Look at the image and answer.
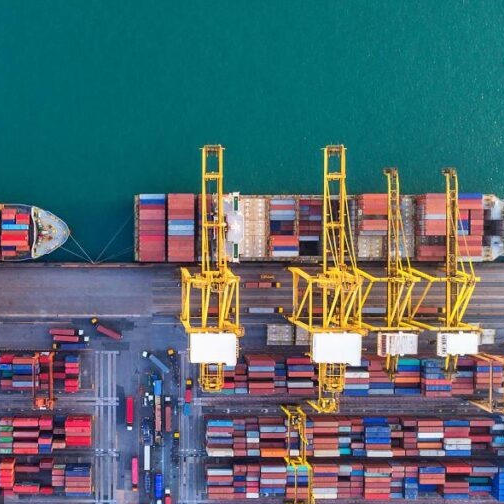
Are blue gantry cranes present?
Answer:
No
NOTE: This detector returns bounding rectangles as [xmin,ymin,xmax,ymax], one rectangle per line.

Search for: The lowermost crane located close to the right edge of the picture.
[469,351,504,414]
